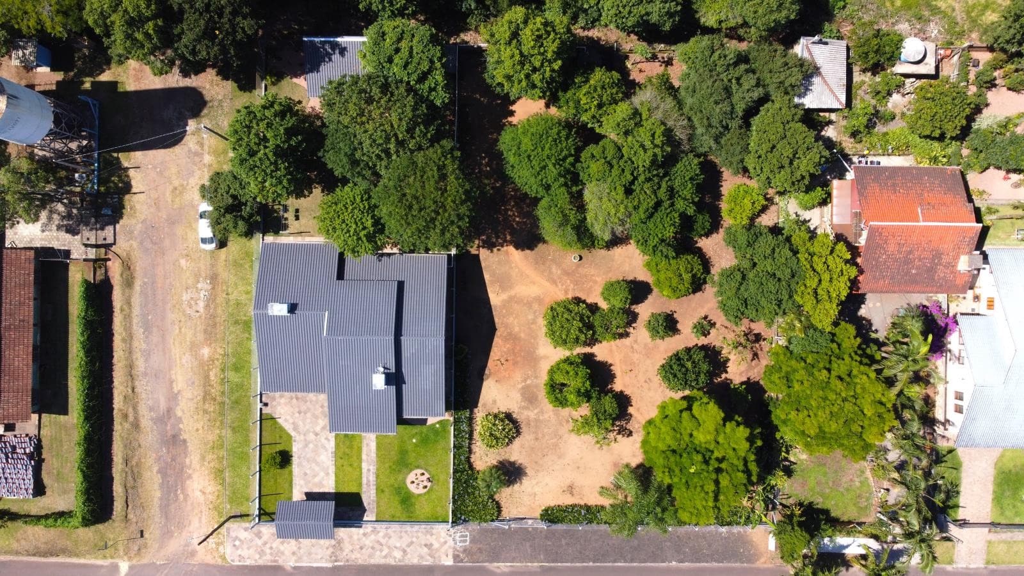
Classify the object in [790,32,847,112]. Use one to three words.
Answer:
shed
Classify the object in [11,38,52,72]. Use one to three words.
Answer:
shed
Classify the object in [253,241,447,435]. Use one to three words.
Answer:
house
